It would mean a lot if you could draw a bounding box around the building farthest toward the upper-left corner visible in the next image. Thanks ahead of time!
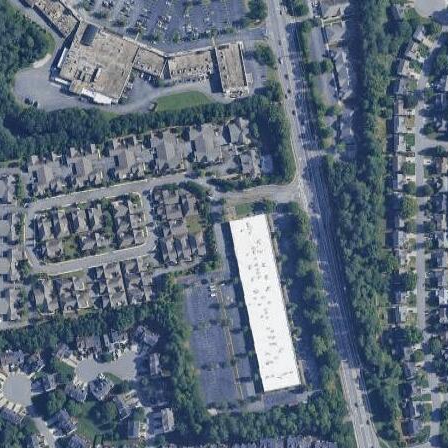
[24,0,81,39]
